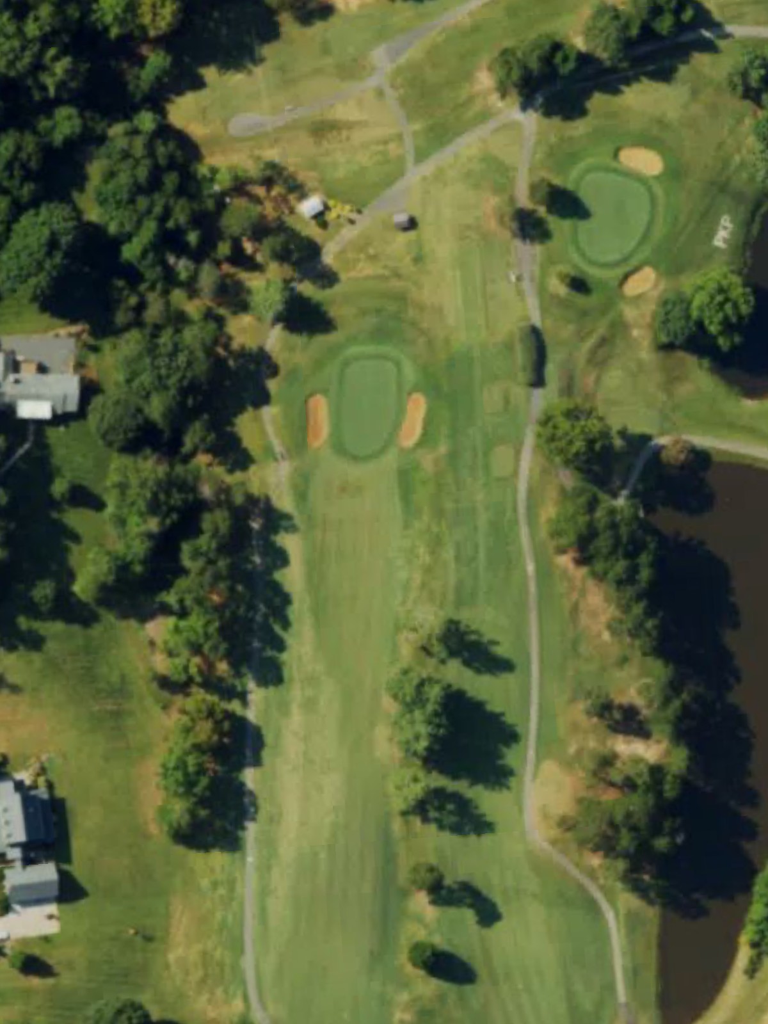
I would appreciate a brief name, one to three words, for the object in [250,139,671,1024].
golf course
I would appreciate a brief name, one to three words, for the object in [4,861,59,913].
building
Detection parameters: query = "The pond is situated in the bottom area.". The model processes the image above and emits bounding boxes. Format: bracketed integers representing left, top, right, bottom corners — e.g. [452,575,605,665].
[644,463,768,1024]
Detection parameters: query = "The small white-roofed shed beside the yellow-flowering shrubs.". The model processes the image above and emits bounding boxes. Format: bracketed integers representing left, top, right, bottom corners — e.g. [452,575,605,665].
[298,193,326,219]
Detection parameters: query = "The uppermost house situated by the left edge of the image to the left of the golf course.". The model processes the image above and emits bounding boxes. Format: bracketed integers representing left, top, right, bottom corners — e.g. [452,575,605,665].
[0,350,80,419]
